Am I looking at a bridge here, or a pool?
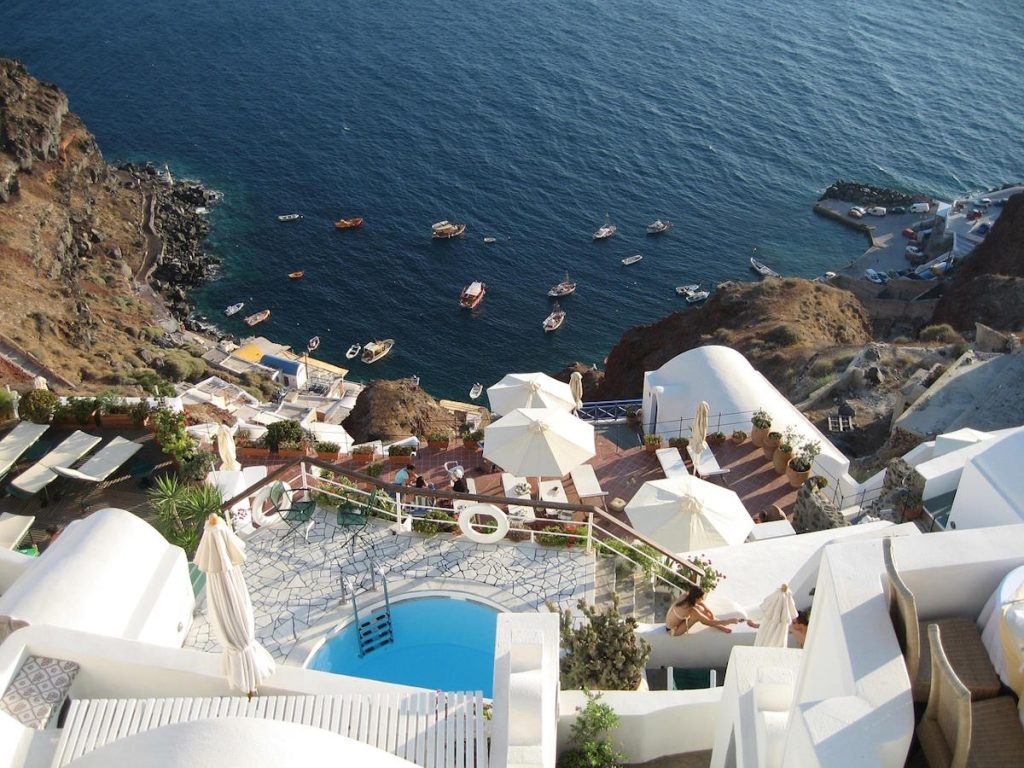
pool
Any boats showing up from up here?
Yes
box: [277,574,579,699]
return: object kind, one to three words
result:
swimming pool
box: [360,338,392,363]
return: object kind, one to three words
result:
boat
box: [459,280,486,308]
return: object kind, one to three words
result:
boat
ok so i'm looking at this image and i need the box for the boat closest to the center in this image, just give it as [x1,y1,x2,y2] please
[467,383,480,400]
